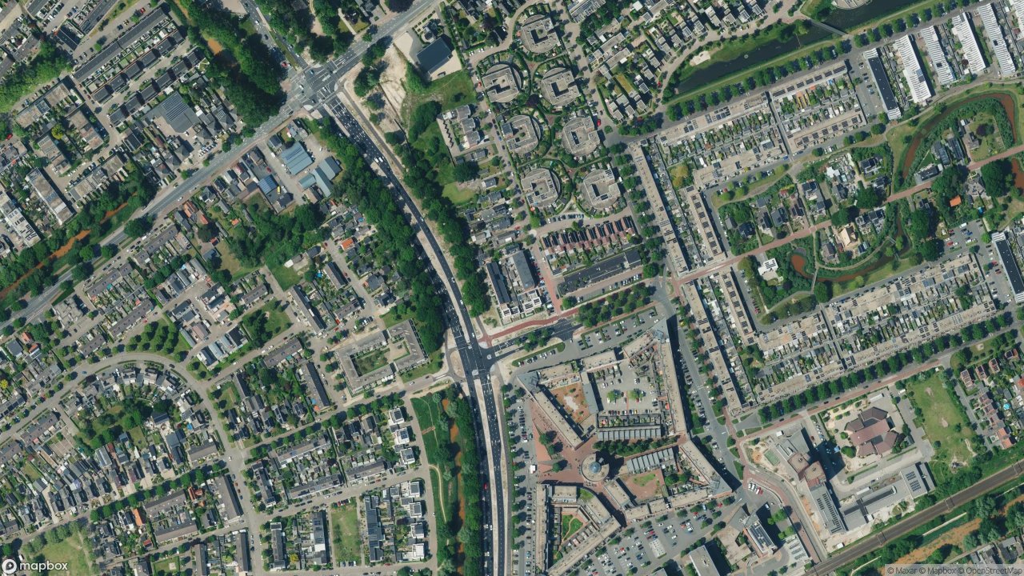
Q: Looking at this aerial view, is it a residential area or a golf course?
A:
residential area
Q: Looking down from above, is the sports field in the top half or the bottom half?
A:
bottom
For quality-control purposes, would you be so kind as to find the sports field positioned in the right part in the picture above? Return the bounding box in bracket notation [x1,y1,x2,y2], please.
[909,372,977,472]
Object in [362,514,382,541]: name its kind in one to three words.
house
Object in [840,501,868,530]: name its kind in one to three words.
house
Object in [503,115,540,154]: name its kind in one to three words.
building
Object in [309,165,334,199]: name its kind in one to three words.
building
